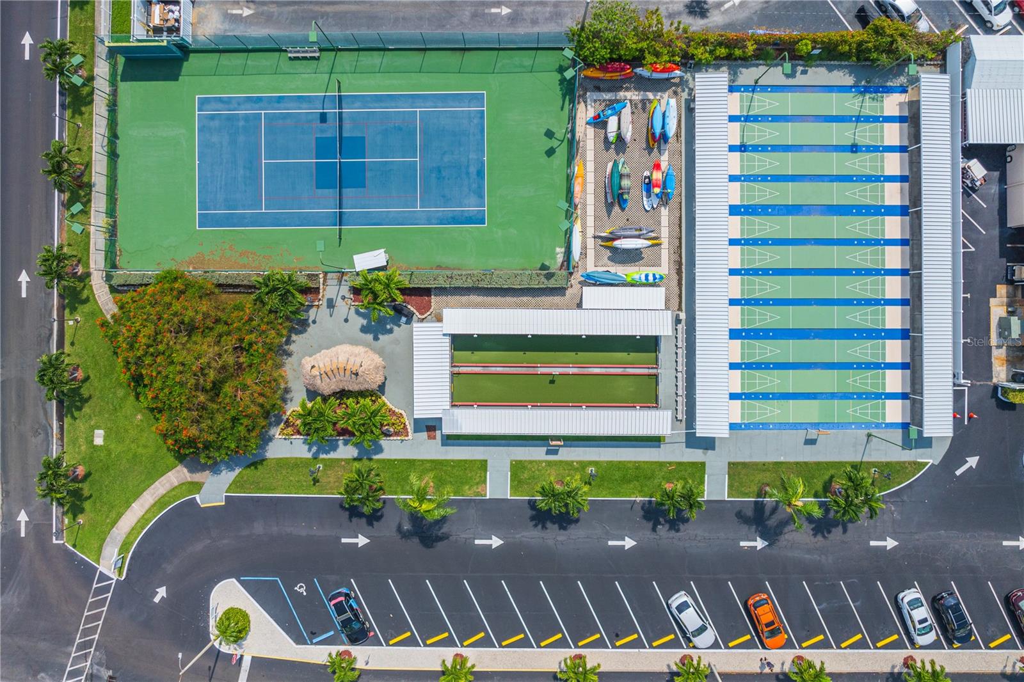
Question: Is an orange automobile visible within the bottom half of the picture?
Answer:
Yes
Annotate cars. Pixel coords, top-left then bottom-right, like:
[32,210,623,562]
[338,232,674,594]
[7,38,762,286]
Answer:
[669,591,712,646]
[329,589,371,641]
[968,0,1012,31]
[896,588,936,643]
[748,593,785,645]
[933,590,975,643]
[881,0,928,35]
[1009,587,1024,635]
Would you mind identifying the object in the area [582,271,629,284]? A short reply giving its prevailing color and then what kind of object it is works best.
blue boat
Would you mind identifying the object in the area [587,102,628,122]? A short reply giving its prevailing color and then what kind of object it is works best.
blue boat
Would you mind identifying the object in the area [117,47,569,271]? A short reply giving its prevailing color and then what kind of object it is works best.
green tennis court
